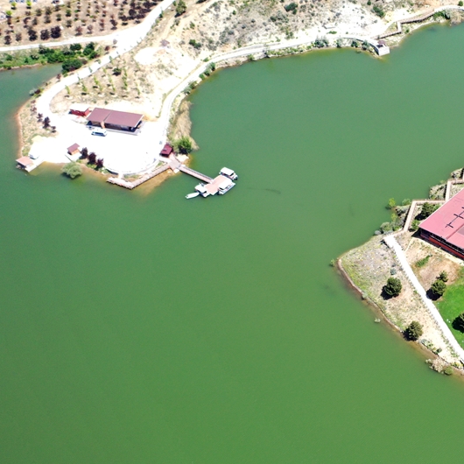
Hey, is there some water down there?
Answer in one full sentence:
Yes, there is water in the image.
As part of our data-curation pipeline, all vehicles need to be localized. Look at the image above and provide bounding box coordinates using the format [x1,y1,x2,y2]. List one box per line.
[29,154,40,159]
[90,129,108,137]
